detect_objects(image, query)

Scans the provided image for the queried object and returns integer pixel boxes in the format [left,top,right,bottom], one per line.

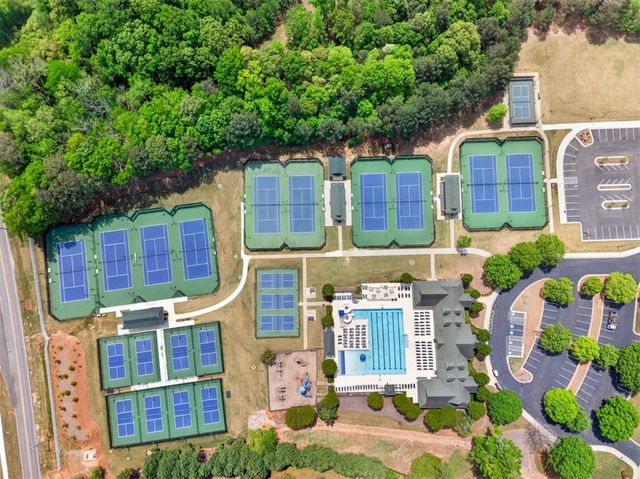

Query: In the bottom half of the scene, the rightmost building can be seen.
[411,281,479,410]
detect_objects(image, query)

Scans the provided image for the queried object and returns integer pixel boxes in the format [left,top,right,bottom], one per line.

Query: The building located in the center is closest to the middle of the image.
[331,182,346,225]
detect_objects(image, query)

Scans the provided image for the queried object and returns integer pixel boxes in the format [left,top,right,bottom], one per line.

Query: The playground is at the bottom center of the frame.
[268,350,316,410]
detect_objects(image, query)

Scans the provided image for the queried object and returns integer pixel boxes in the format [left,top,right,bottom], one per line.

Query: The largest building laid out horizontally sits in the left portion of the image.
[121,307,166,329]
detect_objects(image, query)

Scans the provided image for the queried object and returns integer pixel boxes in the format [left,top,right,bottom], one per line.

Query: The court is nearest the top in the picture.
[509,77,538,124]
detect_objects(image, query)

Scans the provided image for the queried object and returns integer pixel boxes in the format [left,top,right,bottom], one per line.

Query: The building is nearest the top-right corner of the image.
[442,174,461,213]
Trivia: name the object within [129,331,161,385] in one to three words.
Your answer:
sports court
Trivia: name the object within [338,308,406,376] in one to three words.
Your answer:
swimming pool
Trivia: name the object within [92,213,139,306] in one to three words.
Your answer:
tennis court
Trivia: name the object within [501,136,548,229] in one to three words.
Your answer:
tennis court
